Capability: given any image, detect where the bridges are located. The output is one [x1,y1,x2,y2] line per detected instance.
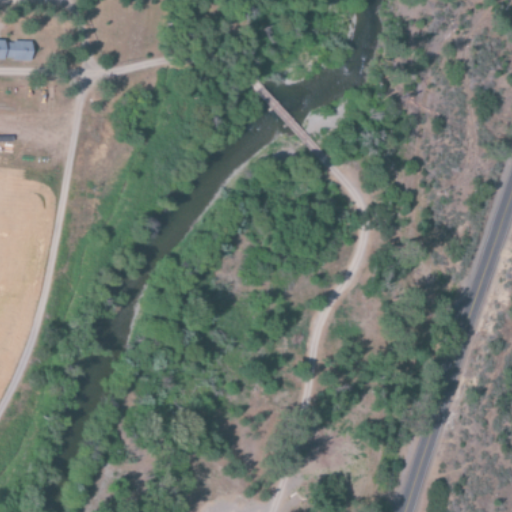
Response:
[252,78,320,156]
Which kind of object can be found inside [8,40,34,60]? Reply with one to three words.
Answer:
house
